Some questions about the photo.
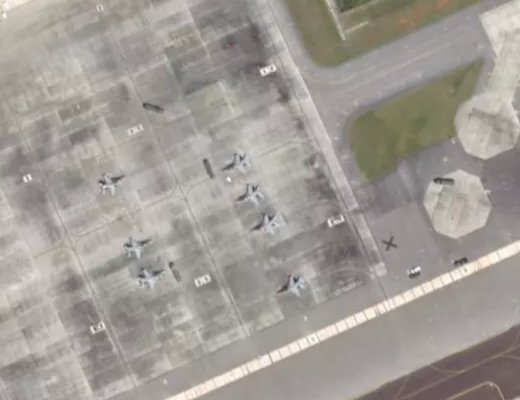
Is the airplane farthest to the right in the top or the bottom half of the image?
bottom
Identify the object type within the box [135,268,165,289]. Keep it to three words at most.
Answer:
airplane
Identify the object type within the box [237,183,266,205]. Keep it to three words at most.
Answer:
airplane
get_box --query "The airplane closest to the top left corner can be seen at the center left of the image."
[95,173,125,194]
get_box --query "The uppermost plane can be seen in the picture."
[223,152,253,174]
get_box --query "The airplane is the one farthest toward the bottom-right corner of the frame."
[278,275,307,296]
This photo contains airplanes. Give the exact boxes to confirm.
[135,268,165,289]
[252,213,282,234]
[122,238,152,259]
[95,173,125,194]
[223,152,253,174]
[237,183,266,205]
[278,275,307,296]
